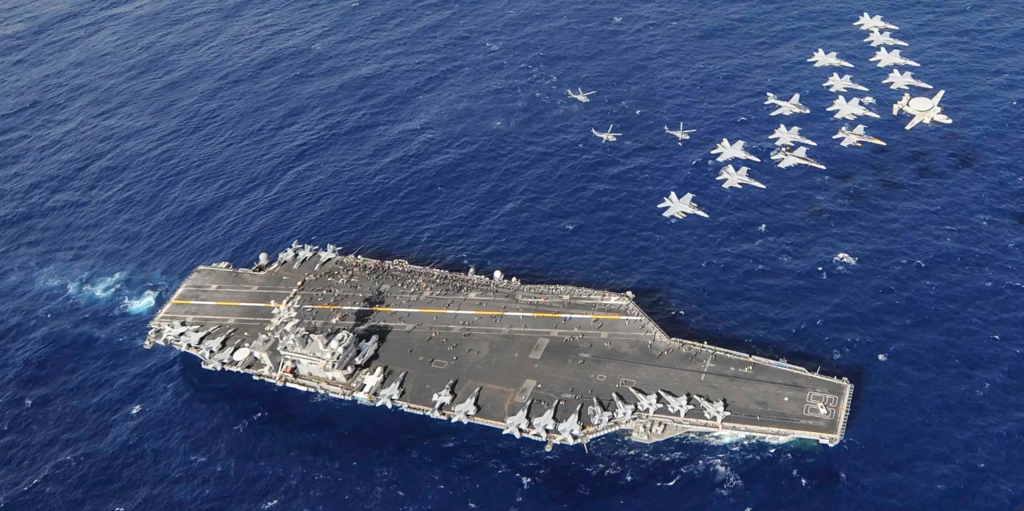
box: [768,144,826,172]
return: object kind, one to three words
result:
airplane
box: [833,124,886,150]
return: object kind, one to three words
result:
airplane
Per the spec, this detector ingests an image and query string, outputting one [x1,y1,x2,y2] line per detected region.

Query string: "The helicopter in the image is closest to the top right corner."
[662,121,694,143]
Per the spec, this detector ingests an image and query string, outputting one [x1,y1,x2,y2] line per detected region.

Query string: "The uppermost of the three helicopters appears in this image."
[569,84,598,103]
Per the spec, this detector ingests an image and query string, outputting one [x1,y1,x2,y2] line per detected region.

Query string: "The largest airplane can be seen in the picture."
[892,87,955,133]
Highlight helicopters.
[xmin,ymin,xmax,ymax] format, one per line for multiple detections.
[593,122,624,144]
[569,84,598,103]
[662,121,694,143]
